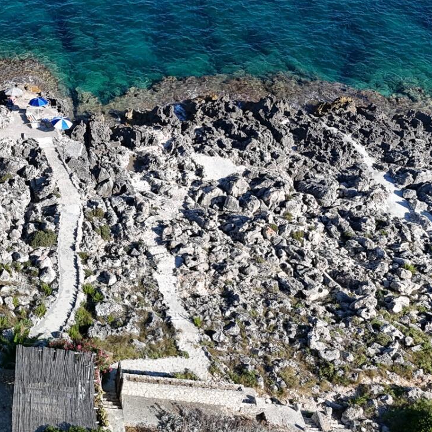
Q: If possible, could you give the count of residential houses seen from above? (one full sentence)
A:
The count of residential houses is 0.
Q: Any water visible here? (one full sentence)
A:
Yes, some water is visible.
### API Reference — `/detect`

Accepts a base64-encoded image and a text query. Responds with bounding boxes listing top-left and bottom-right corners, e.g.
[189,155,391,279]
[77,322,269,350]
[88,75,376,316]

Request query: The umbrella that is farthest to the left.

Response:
[3,86,23,112]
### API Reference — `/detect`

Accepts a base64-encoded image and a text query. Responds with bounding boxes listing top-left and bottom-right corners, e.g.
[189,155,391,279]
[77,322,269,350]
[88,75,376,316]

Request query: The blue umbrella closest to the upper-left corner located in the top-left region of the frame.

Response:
[28,97,49,122]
